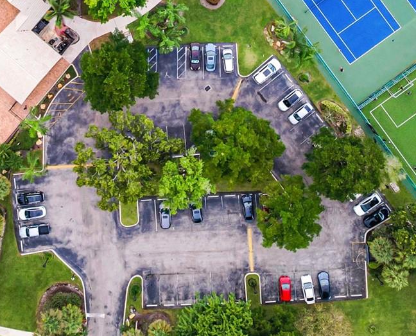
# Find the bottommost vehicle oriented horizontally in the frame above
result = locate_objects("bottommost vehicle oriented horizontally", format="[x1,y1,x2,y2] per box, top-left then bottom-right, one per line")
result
[18,223,50,238]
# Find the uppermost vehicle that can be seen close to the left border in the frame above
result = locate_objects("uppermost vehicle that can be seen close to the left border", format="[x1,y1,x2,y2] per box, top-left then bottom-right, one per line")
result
[17,192,45,205]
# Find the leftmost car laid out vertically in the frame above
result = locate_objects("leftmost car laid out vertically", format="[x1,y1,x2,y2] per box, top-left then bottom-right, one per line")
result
[158,201,171,229]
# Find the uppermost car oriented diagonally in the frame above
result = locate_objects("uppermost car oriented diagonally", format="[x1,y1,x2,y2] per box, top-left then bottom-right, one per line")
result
[253,59,281,83]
